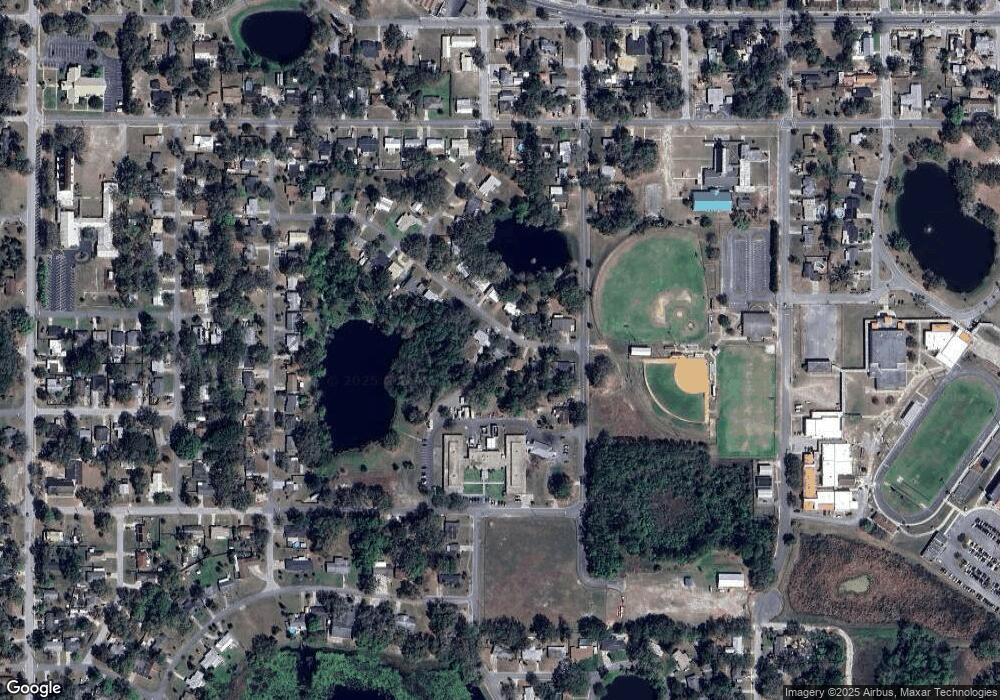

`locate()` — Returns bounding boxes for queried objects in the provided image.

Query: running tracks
[871,369,1000,525]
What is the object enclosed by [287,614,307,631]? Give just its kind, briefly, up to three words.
house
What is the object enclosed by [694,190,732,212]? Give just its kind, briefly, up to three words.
building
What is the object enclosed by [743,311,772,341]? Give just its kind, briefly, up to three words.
building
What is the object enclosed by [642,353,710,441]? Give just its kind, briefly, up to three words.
baseball field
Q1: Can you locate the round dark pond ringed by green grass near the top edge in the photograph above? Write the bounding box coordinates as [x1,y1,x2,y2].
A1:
[240,11,312,65]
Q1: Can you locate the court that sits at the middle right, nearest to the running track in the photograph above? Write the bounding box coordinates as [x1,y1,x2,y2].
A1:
[804,306,837,361]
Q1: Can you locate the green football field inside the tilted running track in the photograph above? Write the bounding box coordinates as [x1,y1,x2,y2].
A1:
[880,377,997,517]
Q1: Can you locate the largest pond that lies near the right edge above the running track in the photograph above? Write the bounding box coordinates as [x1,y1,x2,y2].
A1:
[896,161,996,293]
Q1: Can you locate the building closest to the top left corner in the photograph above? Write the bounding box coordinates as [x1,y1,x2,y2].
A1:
[60,64,105,103]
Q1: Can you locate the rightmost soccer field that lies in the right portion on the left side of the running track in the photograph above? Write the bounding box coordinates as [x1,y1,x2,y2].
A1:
[718,345,776,459]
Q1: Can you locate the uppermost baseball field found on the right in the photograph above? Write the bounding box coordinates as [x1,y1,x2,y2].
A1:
[594,229,704,346]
